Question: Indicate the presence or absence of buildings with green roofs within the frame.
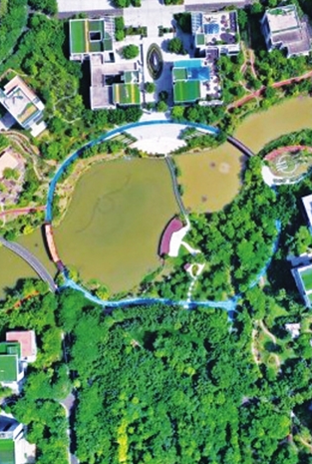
Yes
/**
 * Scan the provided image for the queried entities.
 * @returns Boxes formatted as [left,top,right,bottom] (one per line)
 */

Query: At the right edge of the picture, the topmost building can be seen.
[261,4,312,61]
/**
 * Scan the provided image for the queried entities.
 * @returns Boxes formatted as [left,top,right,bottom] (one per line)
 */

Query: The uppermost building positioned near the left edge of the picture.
[0,76,48,138]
